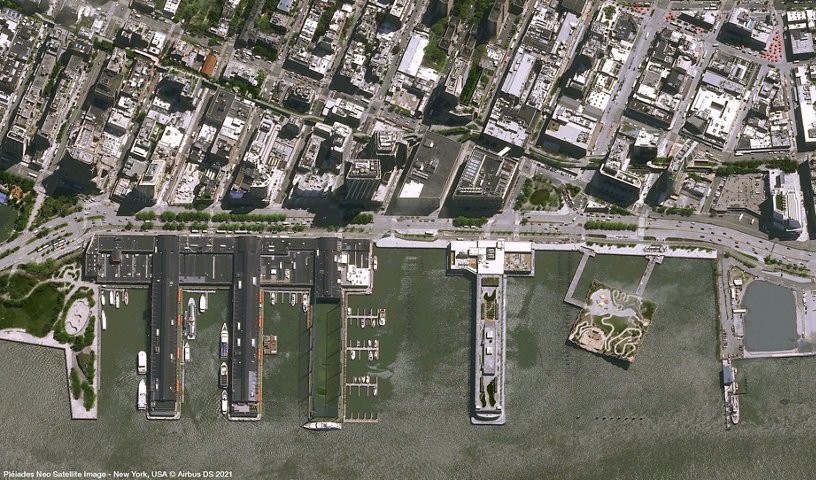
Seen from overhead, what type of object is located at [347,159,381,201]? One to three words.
building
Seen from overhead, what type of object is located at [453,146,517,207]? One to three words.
building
